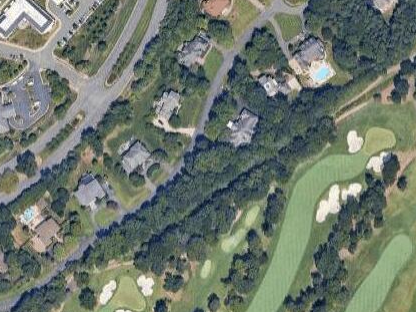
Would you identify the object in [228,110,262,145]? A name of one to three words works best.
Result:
house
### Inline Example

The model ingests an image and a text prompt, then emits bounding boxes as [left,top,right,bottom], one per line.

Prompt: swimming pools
[304,60,336,88]
[20,206,45,231]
